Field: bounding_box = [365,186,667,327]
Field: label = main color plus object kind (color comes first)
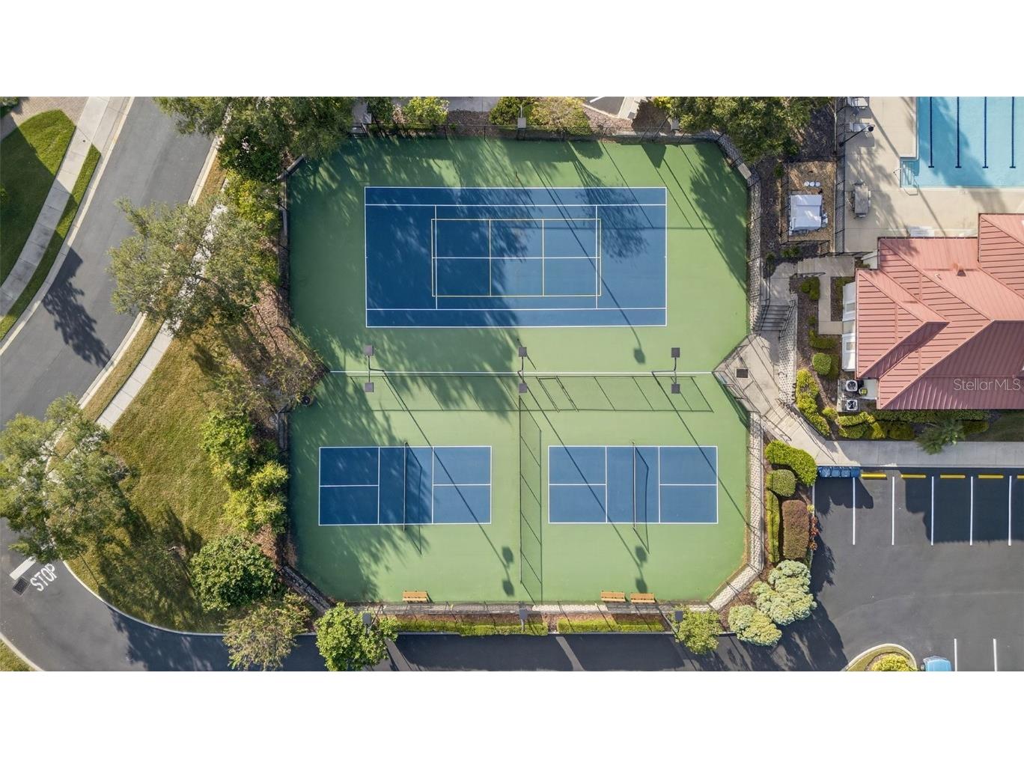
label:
blue tennis court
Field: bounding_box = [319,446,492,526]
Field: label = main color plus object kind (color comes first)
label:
blue sports court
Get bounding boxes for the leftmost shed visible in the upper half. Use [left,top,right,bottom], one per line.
[787,193,823,236]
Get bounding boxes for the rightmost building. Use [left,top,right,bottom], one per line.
[834,213,1024,416]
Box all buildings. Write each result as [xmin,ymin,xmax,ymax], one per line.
[834,213,1024,416]
[787,193,823,236]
